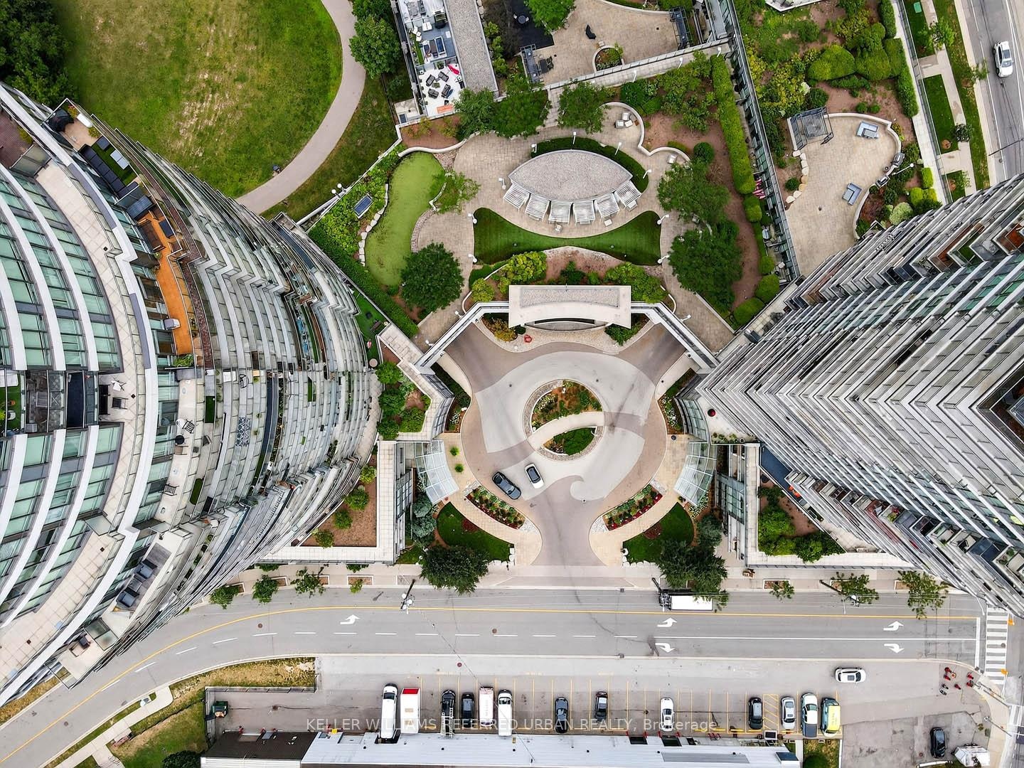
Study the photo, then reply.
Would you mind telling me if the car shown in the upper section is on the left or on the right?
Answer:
right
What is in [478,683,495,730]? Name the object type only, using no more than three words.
vehicle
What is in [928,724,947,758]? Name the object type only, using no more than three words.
car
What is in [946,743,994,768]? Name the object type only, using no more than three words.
trailer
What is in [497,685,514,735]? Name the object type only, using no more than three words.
vehicle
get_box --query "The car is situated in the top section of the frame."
[992,40,1014,79]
